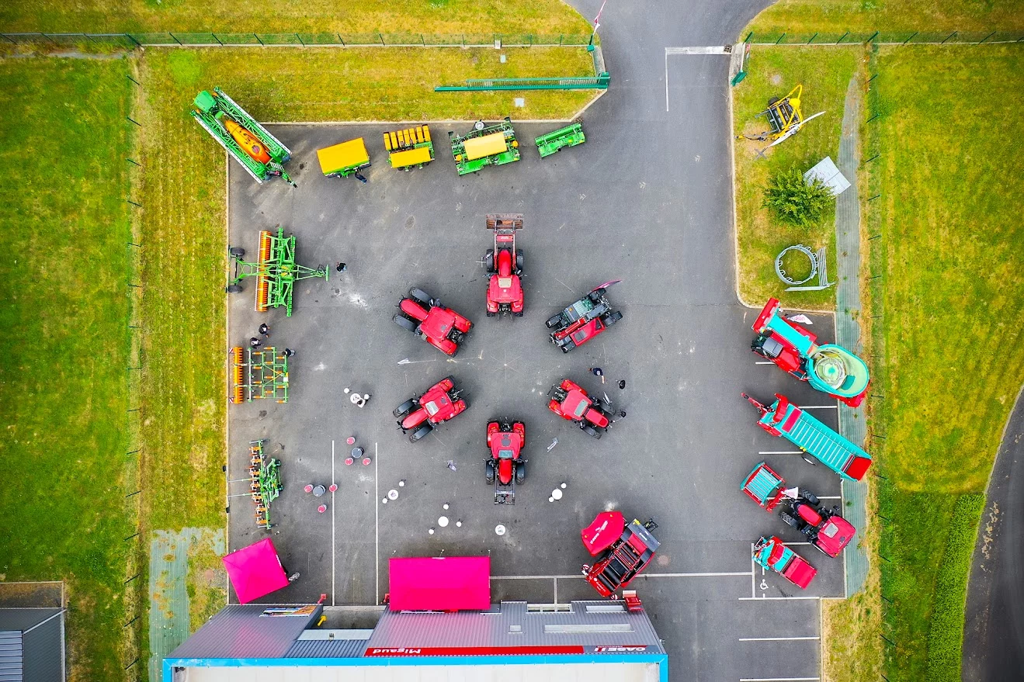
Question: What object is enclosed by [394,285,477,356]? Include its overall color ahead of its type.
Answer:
red work vehicle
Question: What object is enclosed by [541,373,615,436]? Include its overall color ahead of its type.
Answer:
red work vehicle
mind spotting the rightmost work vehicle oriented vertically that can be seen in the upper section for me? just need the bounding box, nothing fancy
[484,220,526,322]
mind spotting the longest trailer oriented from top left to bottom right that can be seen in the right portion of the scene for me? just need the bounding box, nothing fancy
[740,392,872,484]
